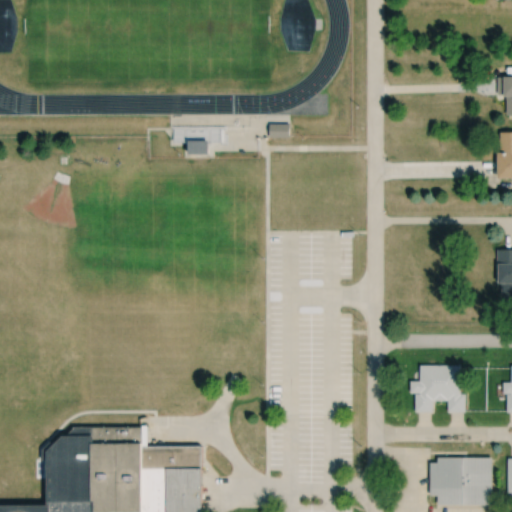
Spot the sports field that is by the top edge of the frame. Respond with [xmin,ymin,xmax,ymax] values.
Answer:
[24,0,279,92]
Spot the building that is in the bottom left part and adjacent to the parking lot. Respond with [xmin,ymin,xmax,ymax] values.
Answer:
[0,424,202,512]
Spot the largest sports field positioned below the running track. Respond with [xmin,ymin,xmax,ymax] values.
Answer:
[62,170,262,316]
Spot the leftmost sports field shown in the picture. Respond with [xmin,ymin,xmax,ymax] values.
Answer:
[24,172,78,228]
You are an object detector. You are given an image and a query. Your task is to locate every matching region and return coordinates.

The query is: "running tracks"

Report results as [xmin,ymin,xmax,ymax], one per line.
[0,0,351,116]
